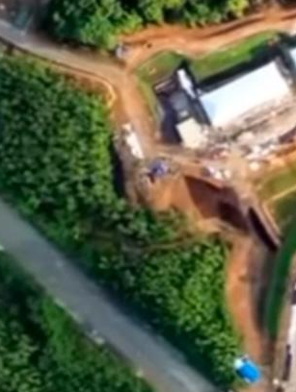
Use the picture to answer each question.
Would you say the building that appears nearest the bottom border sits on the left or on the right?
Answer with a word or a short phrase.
right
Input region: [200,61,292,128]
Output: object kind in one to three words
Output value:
building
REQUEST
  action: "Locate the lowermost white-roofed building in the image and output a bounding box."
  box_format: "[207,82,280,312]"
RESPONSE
[178,117,207,149]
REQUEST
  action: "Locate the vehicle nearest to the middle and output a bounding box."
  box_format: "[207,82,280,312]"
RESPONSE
[142,163,165,177]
